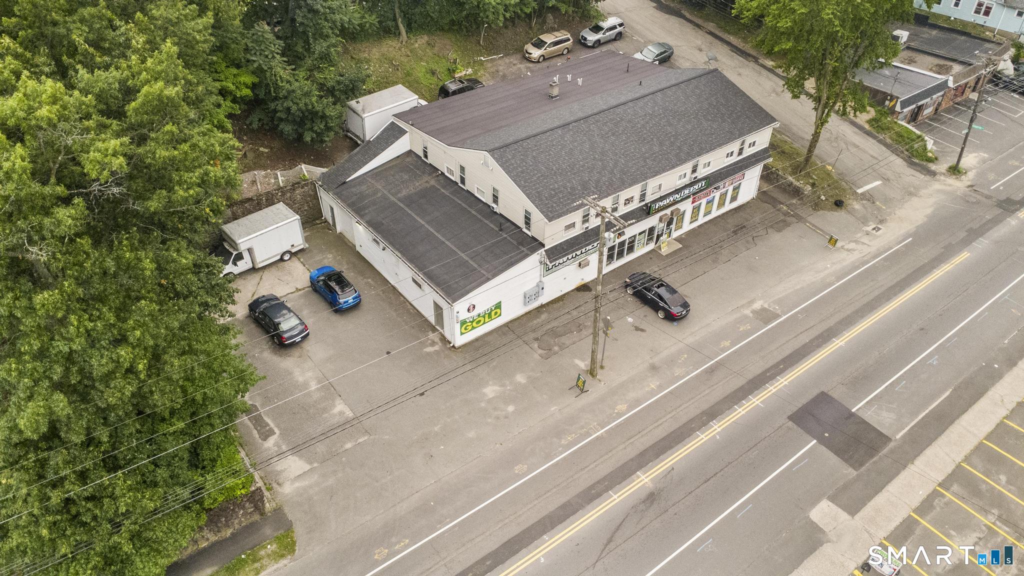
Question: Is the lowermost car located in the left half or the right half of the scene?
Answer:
left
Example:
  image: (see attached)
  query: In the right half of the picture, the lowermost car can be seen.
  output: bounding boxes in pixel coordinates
[624,269,696,321]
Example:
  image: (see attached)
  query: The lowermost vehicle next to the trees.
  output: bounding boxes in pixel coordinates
[248,296,309,350]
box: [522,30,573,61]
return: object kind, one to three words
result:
car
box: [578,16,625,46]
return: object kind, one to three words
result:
car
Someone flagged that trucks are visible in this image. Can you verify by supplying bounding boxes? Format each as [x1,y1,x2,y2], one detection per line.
[347,87,433,143]
[198,205,309,290]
